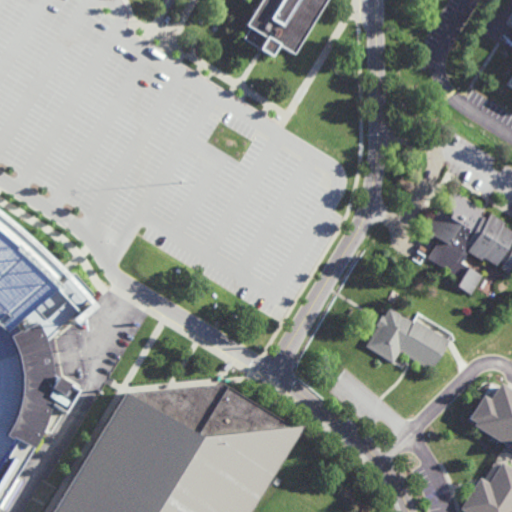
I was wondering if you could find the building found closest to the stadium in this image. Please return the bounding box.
[54,384,304,512]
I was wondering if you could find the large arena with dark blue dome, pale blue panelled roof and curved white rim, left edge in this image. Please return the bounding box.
[0,208,100,512]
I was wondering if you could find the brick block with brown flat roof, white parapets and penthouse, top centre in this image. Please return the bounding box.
[246,0,330,58]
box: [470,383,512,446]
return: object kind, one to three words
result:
house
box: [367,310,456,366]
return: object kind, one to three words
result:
house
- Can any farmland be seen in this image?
No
